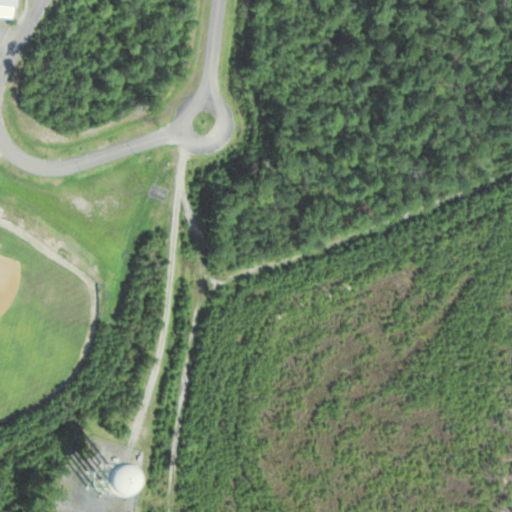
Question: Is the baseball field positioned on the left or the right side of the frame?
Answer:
left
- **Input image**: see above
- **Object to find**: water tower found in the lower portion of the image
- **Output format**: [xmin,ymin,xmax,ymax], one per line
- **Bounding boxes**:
[87,462,142,500]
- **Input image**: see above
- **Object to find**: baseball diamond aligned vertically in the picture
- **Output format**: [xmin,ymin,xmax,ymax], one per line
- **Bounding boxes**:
[0,218,97,421]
